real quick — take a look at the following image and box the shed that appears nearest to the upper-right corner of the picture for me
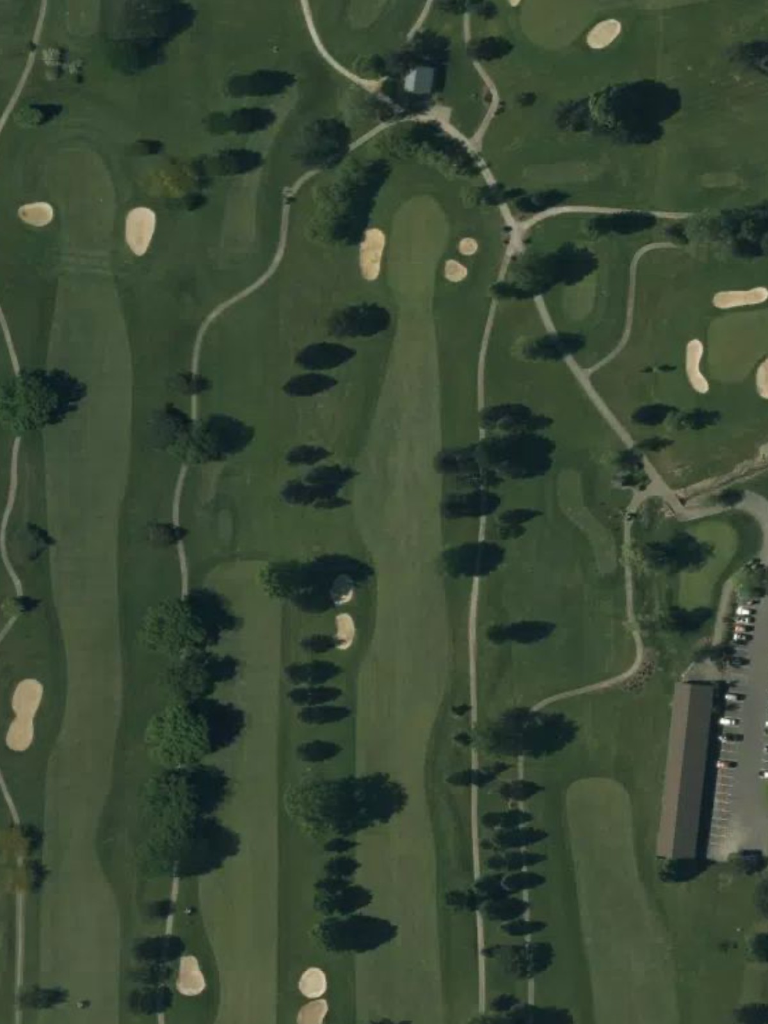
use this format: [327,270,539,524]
[404,68,437,93]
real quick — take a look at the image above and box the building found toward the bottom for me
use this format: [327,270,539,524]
[657,682,717,858]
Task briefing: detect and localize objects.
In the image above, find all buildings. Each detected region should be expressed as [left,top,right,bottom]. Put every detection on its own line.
[657,682,717,858]
[404,68,437,93]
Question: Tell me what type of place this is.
golf course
